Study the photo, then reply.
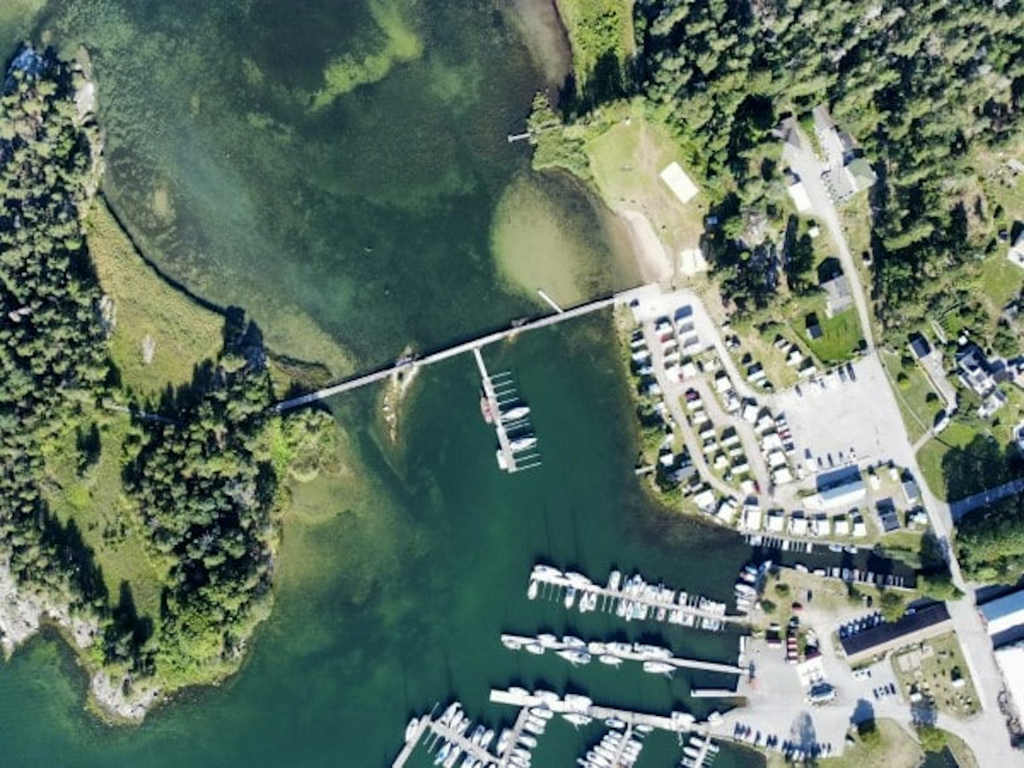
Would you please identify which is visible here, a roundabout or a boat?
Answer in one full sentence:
Of the two, only a boat appears.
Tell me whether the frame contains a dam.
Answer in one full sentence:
No, no dam can be seen from above.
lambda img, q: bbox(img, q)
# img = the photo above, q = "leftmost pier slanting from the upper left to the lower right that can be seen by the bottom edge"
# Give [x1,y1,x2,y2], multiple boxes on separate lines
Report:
[428,718,506,766]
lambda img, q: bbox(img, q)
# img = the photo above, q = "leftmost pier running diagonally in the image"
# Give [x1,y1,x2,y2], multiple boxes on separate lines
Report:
[392,714,430,768]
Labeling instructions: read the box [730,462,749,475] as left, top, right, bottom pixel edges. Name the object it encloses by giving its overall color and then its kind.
white vehicle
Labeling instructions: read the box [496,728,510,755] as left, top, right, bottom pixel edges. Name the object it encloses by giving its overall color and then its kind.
white boat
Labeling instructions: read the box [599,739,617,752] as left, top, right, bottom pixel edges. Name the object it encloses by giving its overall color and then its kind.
white boat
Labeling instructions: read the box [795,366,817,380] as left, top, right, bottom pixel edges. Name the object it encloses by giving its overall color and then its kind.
white camper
